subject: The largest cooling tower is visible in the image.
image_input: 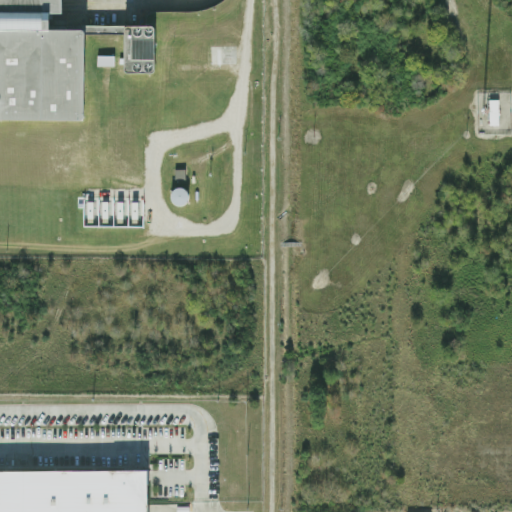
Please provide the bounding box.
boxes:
[124,26,156,73]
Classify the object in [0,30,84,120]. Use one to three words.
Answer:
building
